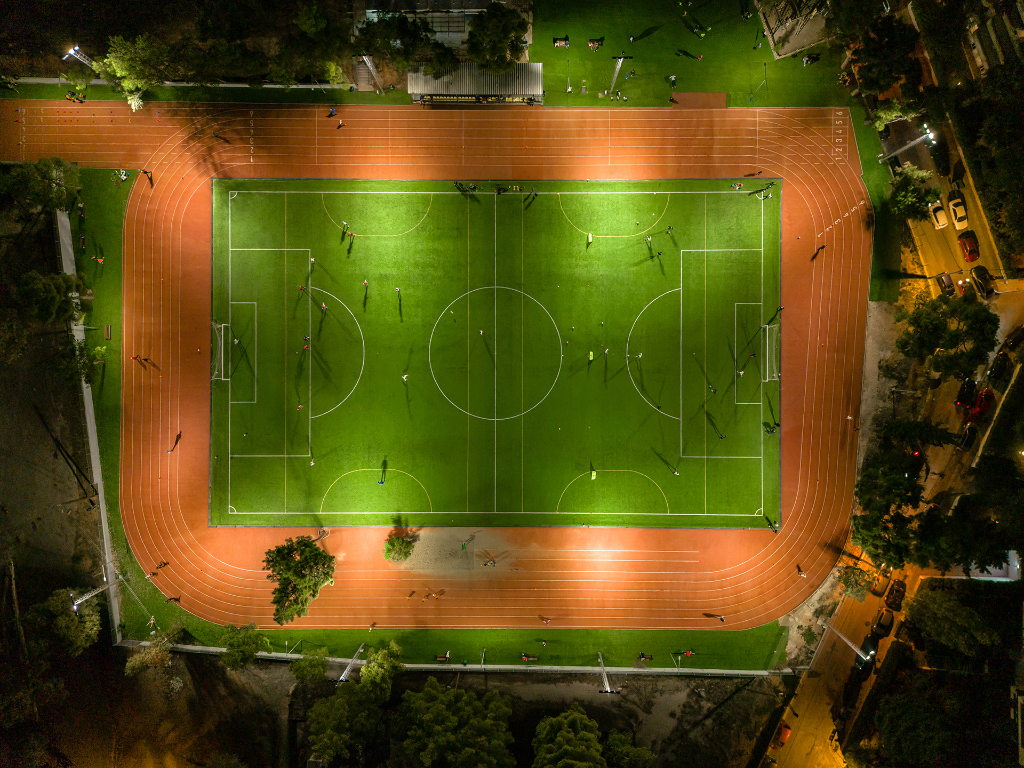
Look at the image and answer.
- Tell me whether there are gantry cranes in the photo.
No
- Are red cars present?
Yes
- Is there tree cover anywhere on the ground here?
Yes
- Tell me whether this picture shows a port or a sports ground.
sports ground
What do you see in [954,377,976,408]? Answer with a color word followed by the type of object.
black car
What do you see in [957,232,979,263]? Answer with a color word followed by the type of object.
red car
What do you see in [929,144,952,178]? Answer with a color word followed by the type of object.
black car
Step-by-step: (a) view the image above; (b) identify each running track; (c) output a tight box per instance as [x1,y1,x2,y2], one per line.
[0,92,875,631]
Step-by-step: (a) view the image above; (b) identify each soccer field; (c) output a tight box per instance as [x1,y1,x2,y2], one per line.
[210,178,783,530]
